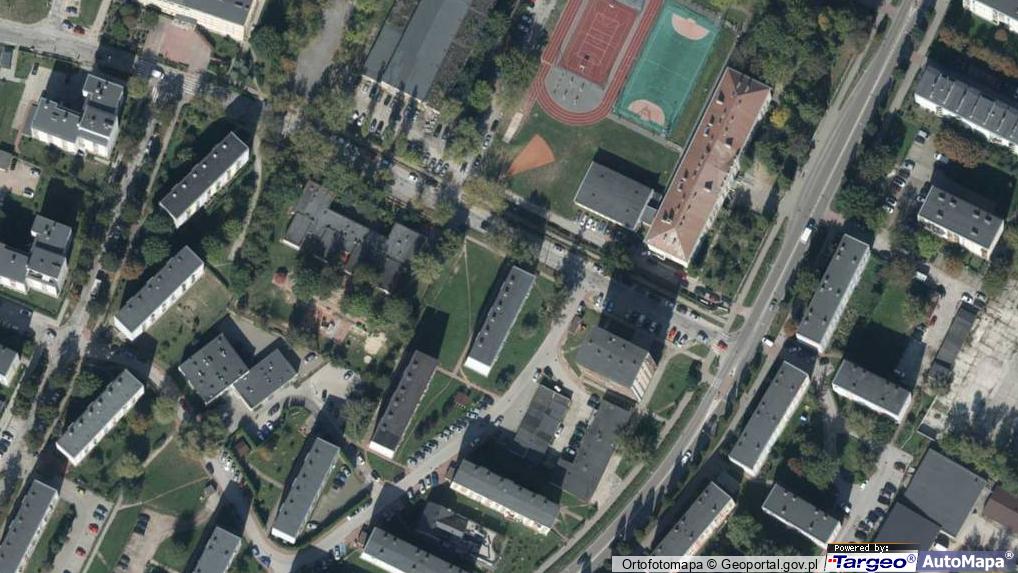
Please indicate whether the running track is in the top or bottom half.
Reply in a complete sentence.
The running track is in the top half of the image.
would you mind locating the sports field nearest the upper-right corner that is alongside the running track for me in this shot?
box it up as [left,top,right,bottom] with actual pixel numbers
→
[615,4,719,134]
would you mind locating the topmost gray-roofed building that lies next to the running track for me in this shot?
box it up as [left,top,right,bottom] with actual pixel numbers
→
[364,0,490,108]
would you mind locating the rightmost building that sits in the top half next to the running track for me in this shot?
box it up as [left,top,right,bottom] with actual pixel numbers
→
[643,68,771,268]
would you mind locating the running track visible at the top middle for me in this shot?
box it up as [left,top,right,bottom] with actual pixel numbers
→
[519,0,664,125]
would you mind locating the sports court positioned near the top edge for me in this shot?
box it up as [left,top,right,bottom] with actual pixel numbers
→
[561,0,642,85]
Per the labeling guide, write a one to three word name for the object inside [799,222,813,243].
vehicle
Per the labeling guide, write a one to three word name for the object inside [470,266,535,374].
building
